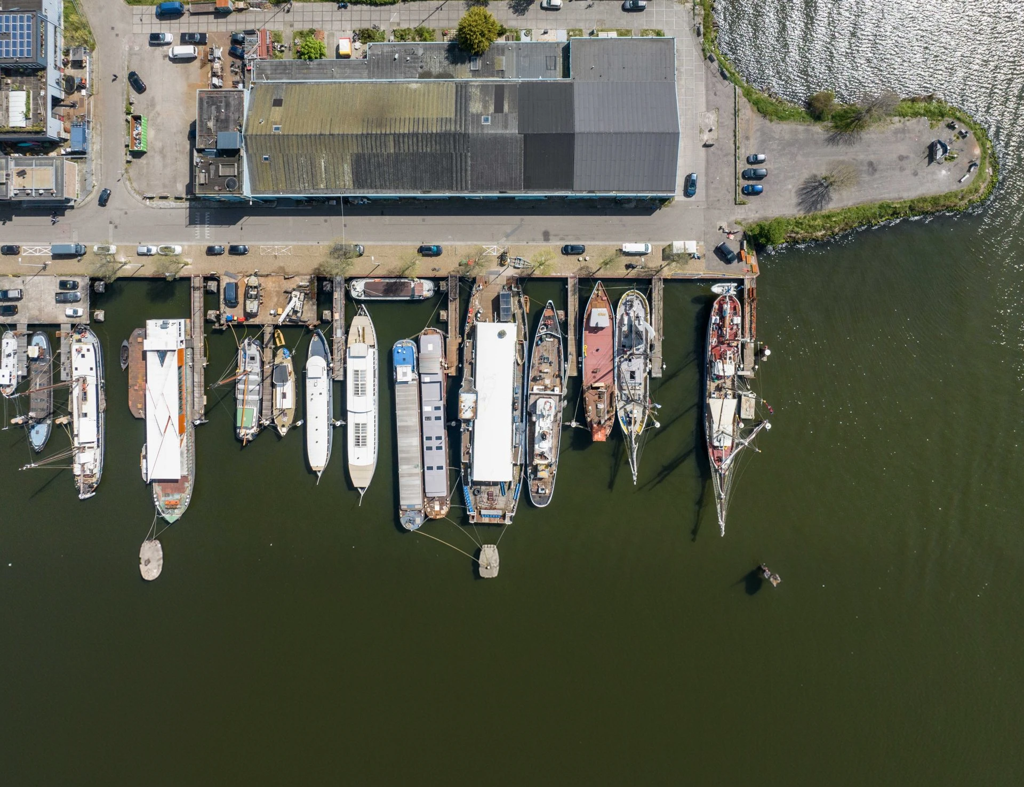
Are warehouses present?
Yes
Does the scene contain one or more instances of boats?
Yes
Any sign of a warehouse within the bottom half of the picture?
No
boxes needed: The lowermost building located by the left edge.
[0,156,85,204]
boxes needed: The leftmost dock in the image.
[17,323,30,374]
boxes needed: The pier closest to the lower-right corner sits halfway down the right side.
[739,392,755,419]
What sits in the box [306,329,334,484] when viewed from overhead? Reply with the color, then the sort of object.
white boat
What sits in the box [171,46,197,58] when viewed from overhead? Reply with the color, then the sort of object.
white vehicle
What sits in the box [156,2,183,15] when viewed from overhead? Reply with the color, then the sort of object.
blue vehicle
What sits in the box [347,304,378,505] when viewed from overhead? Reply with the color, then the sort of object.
white vessel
